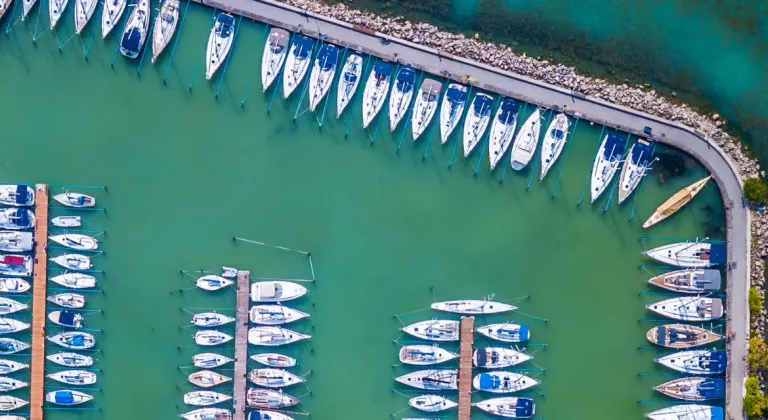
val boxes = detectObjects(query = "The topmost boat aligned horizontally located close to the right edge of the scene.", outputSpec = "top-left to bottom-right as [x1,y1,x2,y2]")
[641,238,733,269]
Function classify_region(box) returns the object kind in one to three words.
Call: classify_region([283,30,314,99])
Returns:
boat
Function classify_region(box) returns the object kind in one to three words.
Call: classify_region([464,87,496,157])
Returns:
boat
